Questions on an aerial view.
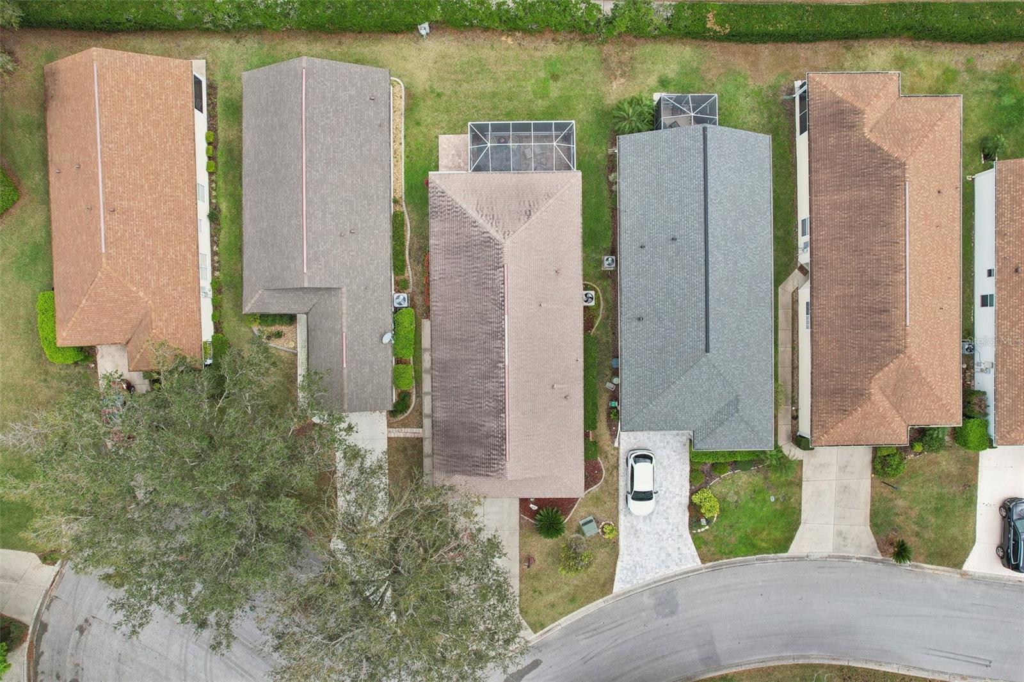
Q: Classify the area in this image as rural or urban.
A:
urban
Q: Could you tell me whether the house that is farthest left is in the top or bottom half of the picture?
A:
top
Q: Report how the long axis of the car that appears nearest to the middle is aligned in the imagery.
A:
from top to bottom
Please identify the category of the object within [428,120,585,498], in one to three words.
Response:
house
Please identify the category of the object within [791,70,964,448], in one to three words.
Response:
house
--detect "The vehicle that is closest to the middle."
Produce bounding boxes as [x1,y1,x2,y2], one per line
[625,452,658,517]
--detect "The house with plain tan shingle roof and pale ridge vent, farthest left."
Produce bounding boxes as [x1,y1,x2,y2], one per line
[45,48,213,372]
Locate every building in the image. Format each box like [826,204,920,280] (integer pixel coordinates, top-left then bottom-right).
[428,120,585,498]
[243,56,394,411]
[969,158,1024,447]
[613,94,775,451]
[45,48,213,372]
[791,70,964,448]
